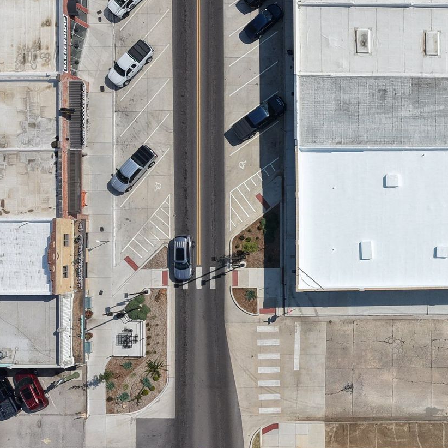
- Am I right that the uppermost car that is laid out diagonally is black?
Yes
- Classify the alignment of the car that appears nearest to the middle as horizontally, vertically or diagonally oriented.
vertically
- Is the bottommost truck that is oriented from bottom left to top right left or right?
left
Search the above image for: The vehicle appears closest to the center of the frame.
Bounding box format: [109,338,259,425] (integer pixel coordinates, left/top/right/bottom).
[170,234,194,282]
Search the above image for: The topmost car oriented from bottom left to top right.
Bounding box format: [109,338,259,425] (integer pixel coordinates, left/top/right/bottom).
[241,2,285,41]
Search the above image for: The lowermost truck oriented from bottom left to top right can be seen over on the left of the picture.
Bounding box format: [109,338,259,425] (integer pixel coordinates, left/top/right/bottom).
[107,142,158,193]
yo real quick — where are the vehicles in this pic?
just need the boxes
[0,368,21,423]
[107,142,158,193]
[105,0,140,17]
[227,96,285,140]
[14,369,48,416]
[170,234,194,282]
[241,2,285,41]
[241,0,264,9]
[105,37,155,88]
